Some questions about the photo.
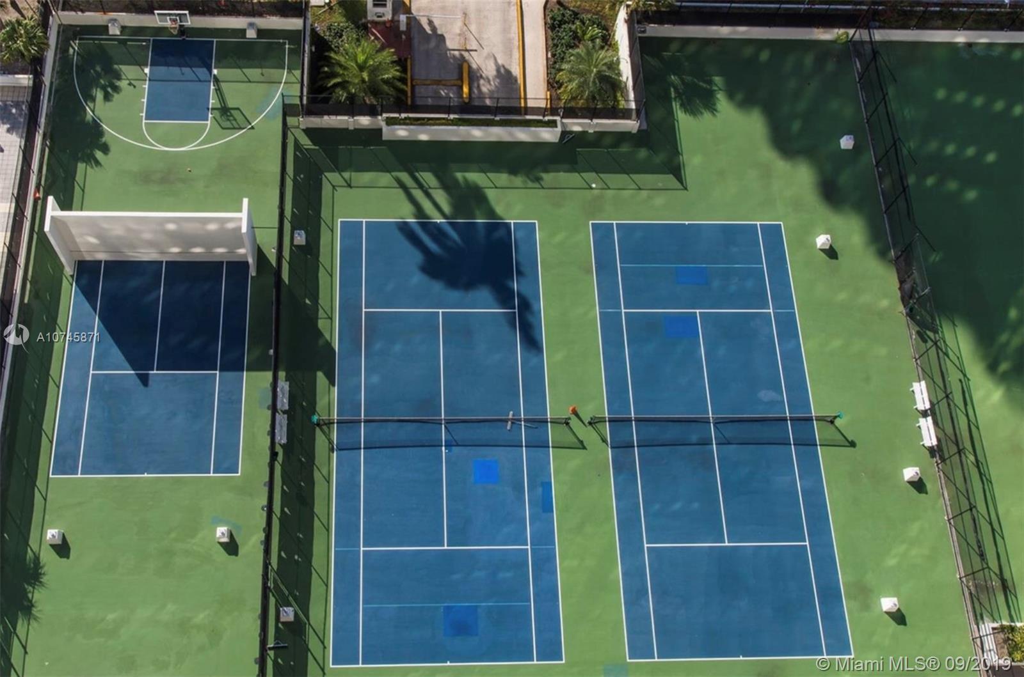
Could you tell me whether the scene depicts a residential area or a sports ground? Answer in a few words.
sports ground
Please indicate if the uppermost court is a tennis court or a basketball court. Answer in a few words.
basketball court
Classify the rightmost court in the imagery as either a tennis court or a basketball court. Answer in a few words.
tennis court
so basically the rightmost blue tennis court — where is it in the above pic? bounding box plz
[590,221,854,662]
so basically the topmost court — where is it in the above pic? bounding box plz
[73,36,293,150]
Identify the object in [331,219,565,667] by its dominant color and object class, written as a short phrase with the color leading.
blue tennis court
